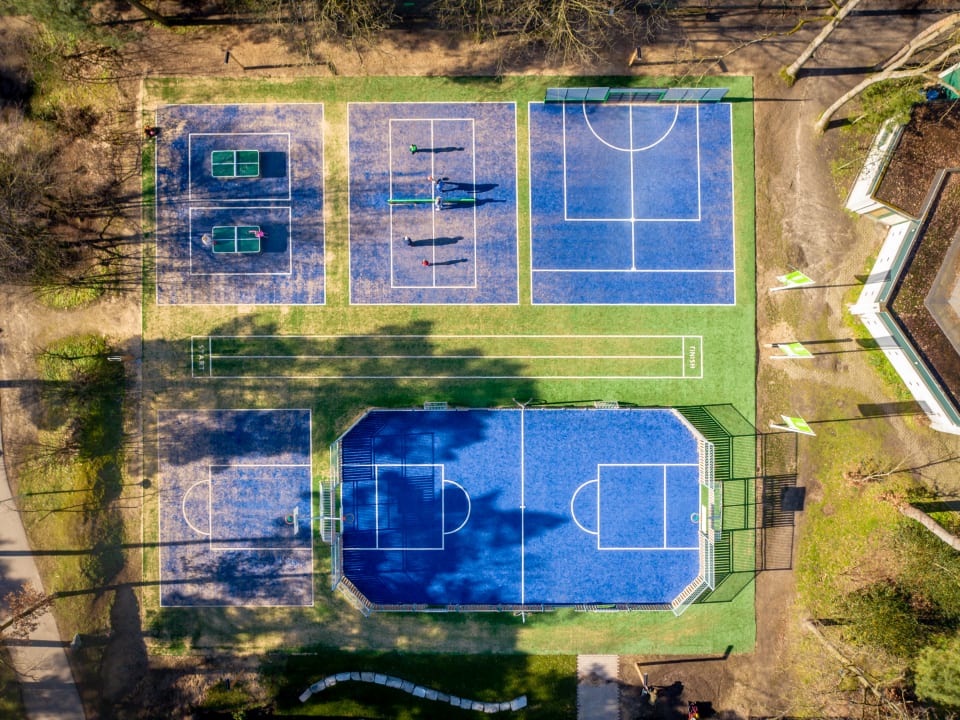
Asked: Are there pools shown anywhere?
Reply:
No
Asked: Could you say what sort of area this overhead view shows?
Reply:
sports ground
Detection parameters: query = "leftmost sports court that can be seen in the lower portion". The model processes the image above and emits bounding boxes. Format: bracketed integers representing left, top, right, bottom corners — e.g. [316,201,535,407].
[158,409,314,608]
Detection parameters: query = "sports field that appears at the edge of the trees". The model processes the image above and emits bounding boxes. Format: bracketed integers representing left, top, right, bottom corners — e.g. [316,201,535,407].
[142,76,757,655]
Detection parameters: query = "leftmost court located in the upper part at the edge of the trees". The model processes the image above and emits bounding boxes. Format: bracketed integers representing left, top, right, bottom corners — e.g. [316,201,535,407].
[156,102,326,305]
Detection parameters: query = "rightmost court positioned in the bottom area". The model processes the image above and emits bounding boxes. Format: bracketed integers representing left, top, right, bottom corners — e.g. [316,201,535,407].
[332,407,712,609]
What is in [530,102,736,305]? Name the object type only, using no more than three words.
sports court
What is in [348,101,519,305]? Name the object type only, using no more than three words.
sports court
